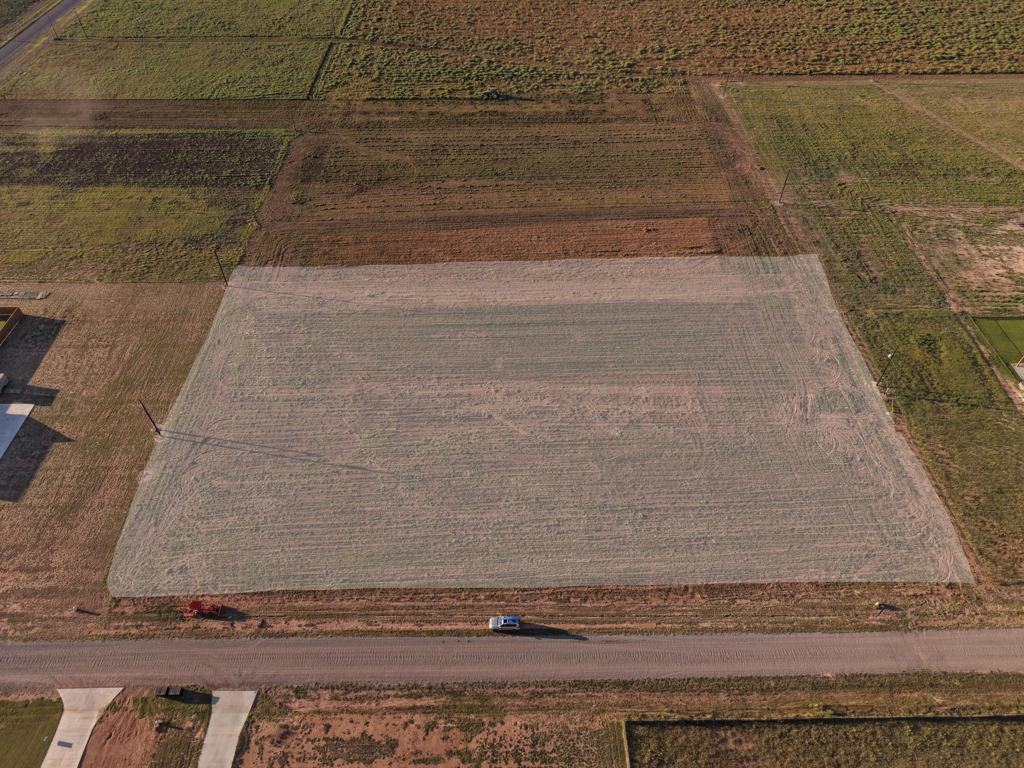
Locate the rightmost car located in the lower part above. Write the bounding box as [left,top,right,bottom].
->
[489,617,521,632]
